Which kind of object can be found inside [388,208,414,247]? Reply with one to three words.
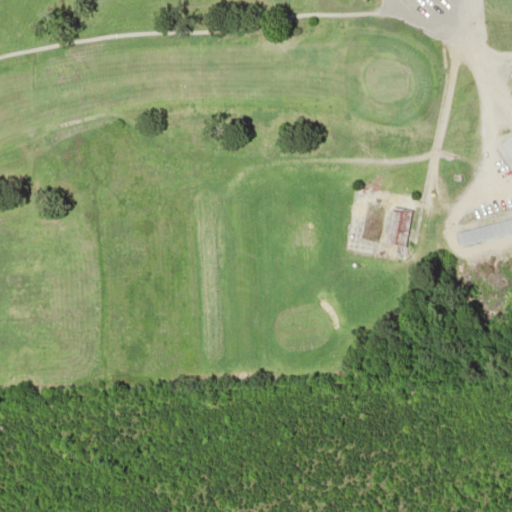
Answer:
barn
